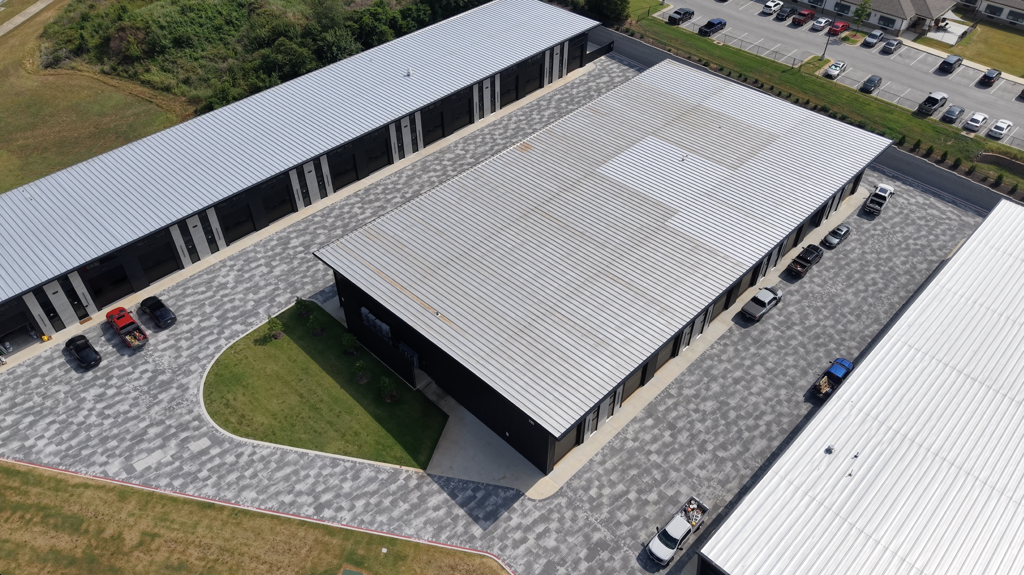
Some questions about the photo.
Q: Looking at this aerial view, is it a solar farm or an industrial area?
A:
industrial area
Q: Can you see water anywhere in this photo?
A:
No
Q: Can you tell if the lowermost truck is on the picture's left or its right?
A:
right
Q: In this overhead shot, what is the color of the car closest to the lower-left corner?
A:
black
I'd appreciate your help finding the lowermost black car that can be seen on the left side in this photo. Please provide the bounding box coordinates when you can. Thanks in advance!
[64,332,103,373]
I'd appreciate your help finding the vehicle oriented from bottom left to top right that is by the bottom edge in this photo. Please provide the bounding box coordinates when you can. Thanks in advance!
[643,492,712,571]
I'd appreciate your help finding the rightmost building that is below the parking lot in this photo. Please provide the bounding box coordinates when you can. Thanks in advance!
[689,198,1024,575]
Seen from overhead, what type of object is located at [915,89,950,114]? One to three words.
truck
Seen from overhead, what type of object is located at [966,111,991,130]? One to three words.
car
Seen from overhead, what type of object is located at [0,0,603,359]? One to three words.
warehouse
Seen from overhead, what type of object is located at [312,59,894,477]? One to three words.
warehouse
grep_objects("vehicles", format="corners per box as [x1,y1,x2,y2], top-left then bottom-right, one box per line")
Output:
[738,283,791,328]
[783,244,828,281]
[864,183,896,216]
[938,53,964,73]
[790,7,818,26]
[823,60,847,77]
[966,111,991,130]
[775,2,803,21]
[669,4,699,23]
[700,15,730,34]
[820,224,854,251]
[989,119,1014,138]
[643,492,712,571]
[827,21,848,35]
[862,29,885,48]
[862,73,887,91]
[943,103,967,121]
[915,89,950,114]
[812,17,833,31]
[881,39,903,54]
[979,67,1004,86]
[64,332,103,373]
[806,355,854,402]
[140,295,178,332]
[762,0,785,14]
[101,302,148,353]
